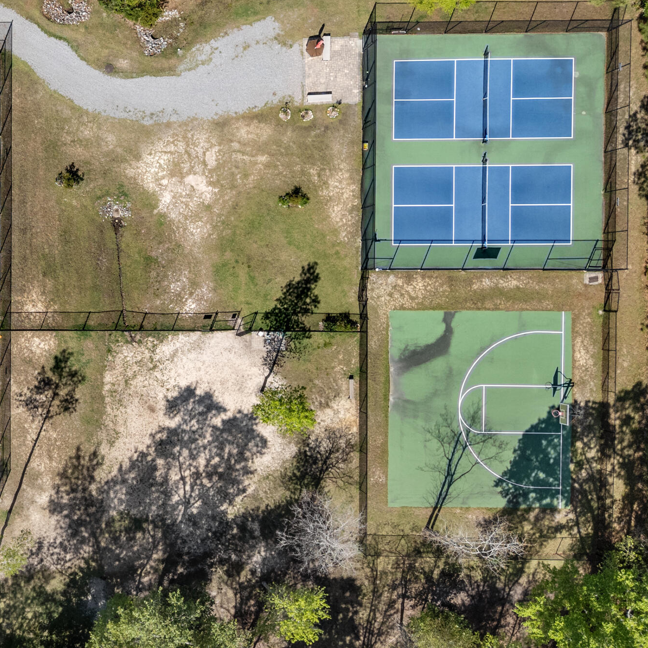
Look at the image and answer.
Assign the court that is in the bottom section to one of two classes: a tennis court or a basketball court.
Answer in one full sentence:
What you see as the court that is in the bottom section is a basketball court.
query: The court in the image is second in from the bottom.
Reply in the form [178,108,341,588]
[361,152,605,268]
